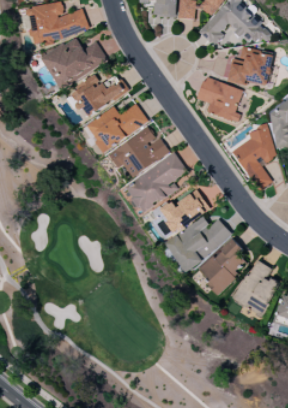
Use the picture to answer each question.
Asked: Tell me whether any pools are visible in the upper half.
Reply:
Yes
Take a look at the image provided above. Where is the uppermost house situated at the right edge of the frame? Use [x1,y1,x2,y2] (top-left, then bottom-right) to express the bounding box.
[200,0,274,44]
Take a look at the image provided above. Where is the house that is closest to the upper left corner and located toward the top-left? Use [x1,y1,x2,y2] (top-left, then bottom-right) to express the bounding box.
[26,0,90,46]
